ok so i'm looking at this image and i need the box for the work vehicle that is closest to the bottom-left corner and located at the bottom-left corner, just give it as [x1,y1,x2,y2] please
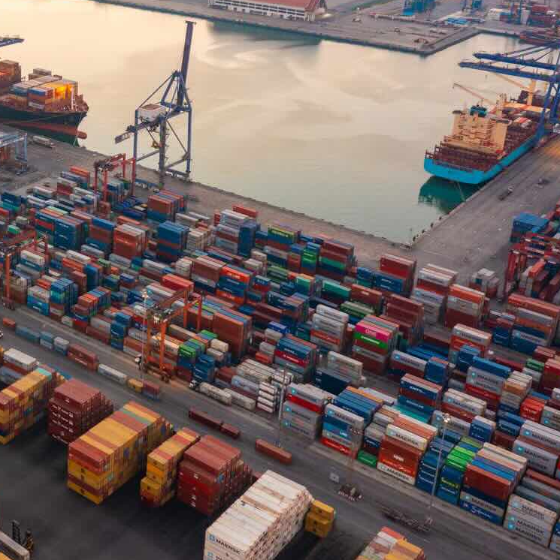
[9,512,43,553]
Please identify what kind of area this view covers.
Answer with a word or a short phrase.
port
